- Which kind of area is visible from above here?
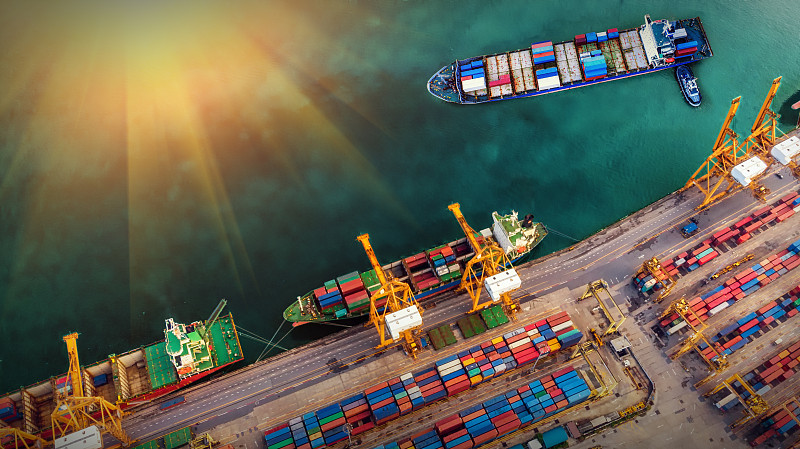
port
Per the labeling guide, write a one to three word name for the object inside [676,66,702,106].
boat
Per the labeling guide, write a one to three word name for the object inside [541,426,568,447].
shed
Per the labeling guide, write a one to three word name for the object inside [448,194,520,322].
container crane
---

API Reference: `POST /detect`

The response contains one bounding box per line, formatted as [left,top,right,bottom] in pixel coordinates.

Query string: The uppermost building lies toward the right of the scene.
[608,333,634,360]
